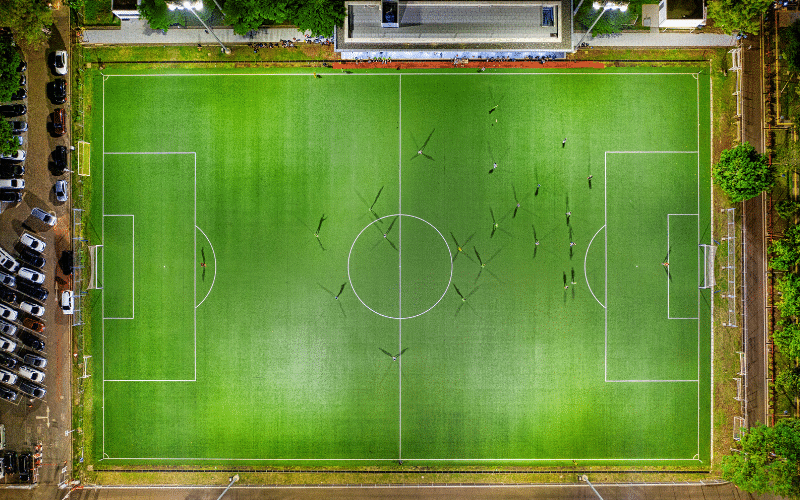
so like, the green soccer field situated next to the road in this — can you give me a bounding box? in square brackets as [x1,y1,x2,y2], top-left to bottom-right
[93,66,711,466]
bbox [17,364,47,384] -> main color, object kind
white car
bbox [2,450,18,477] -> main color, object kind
black car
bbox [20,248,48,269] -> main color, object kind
black car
